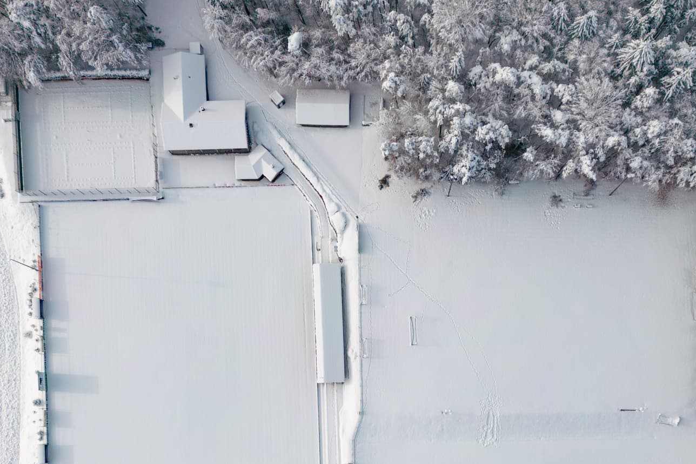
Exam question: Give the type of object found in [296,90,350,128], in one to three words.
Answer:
barn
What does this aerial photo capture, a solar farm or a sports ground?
sports ground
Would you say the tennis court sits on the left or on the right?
left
